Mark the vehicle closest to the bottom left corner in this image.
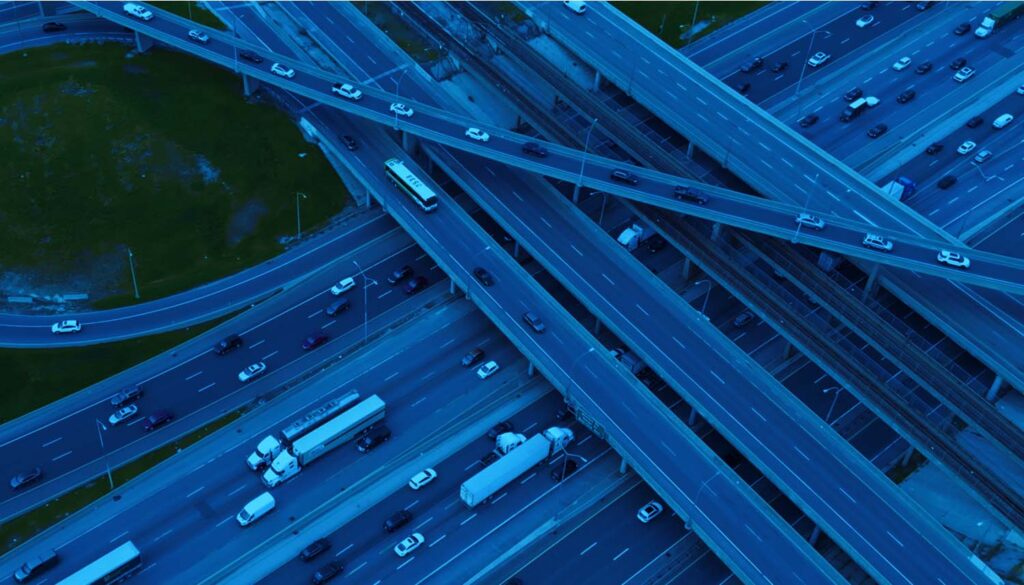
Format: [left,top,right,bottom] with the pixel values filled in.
[15,547,60,582]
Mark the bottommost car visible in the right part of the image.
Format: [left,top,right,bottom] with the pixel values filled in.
[636,501,664,524]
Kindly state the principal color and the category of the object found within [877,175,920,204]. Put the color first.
blue truck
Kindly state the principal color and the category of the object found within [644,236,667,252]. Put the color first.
black car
